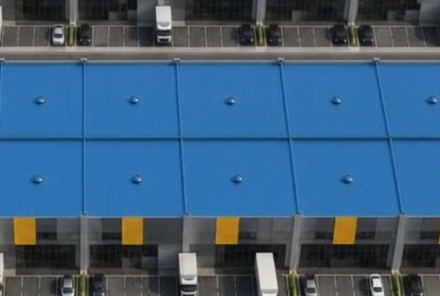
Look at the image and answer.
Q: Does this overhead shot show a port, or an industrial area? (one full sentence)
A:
The area seen from above is an industrial area.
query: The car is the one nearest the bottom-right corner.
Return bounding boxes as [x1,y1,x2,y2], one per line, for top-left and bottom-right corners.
[408,274,425,296]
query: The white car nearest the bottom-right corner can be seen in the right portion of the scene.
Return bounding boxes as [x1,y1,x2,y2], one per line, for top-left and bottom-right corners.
[370,276,385,296]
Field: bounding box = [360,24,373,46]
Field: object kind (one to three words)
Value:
vehicle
